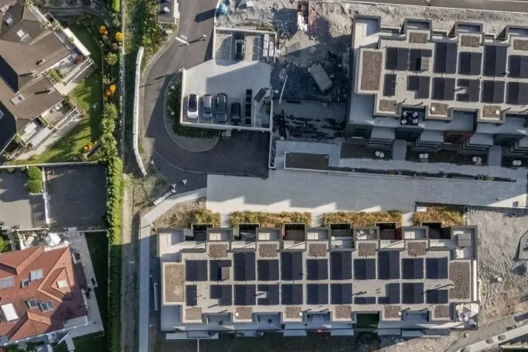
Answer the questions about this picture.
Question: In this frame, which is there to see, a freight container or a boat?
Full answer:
Looking from above, you can make out a freight container.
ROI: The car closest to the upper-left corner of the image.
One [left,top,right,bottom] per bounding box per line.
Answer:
[185,92,197,119]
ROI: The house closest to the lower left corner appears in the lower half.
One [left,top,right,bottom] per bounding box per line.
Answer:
[0,235,94,348]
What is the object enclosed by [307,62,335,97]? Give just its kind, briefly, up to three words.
shipping container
